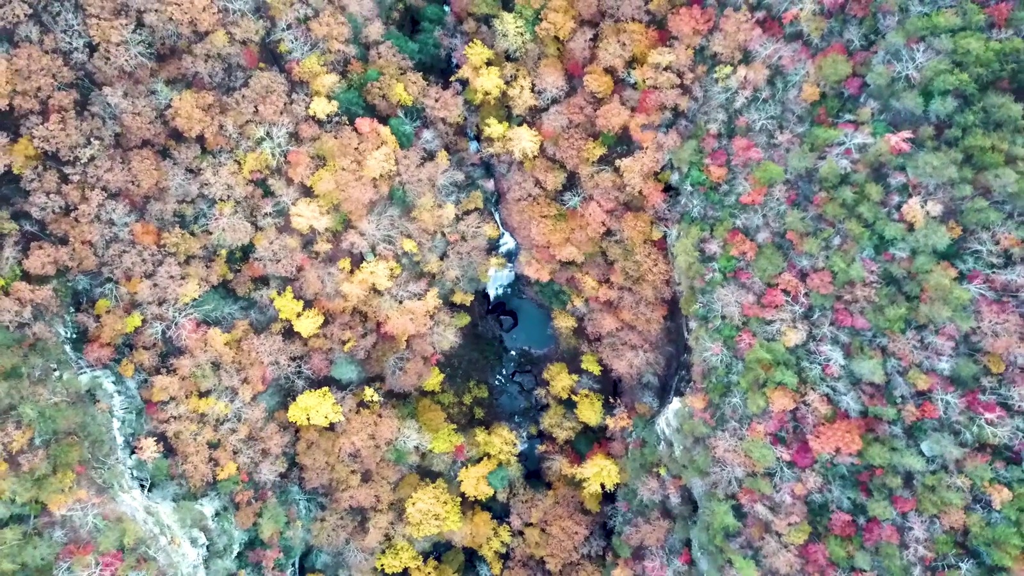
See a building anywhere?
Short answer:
No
